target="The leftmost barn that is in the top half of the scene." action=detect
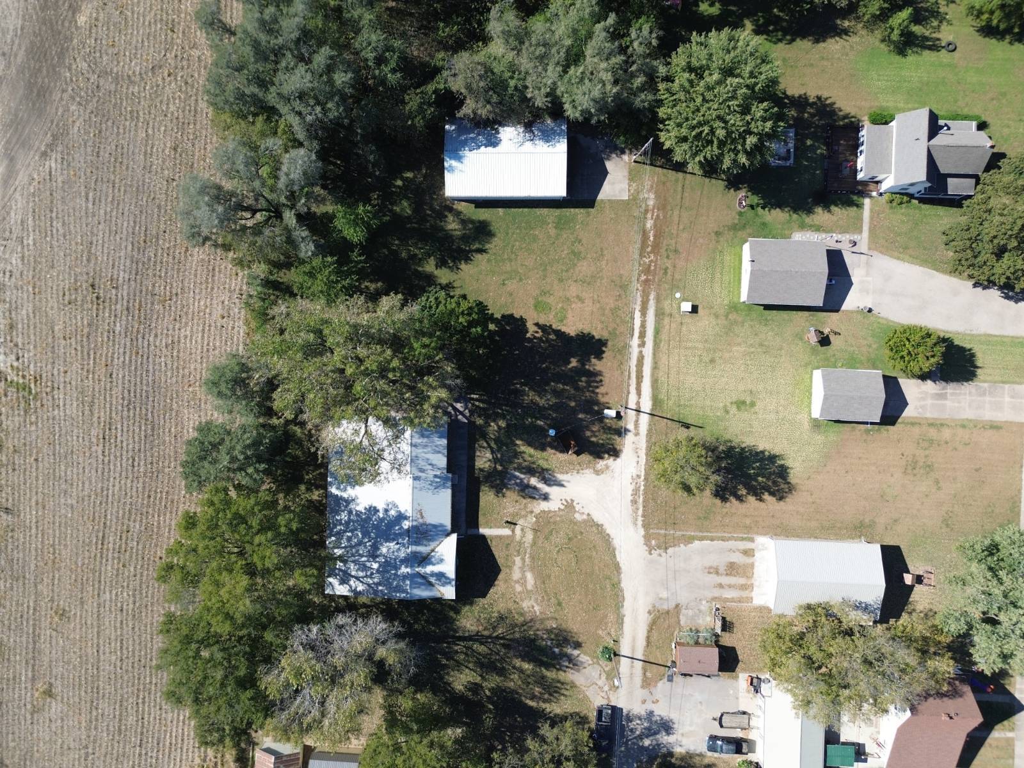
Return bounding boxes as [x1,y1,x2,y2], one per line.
[443,118,568,201]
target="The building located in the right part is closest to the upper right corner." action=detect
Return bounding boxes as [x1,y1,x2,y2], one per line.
[857,108,994,198]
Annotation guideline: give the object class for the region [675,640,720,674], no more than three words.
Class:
shed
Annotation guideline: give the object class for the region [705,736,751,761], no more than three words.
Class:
truck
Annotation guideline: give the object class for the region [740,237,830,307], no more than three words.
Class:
building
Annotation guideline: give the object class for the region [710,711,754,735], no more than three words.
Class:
trailer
